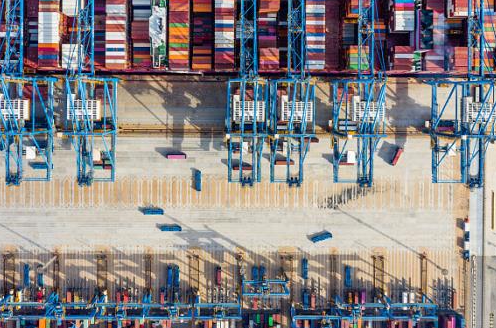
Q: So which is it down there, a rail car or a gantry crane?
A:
gantry crane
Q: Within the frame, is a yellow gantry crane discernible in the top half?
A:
No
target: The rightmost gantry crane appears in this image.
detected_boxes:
[419,0,496,189]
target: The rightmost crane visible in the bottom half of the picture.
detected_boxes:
[379,288,435,319]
